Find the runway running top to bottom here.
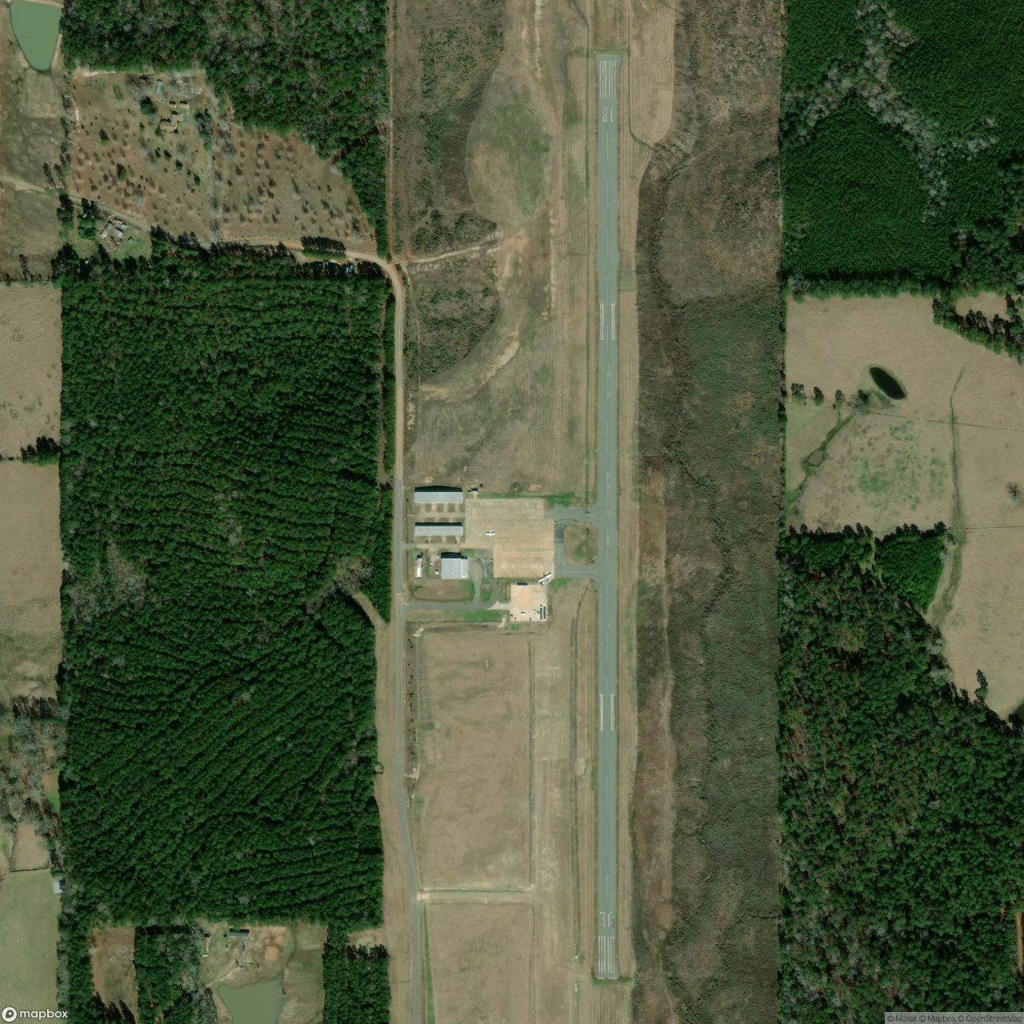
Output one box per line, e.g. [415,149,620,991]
[594,52,622,979]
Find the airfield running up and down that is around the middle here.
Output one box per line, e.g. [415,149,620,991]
[466,52,622,979]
